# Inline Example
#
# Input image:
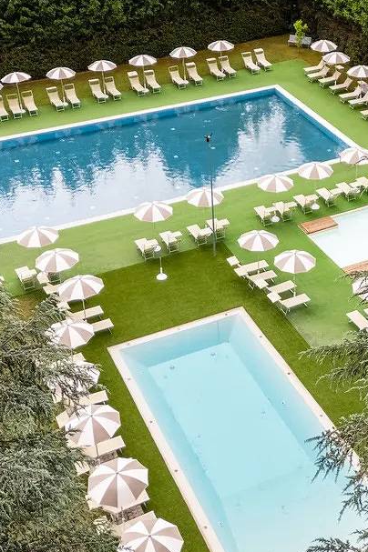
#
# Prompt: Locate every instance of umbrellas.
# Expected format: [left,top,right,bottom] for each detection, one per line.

[50,361,104,416]
[167,49,193,83]
[298,165,334,191]
[118,521,186,552]
[311,42,338,58]
[271,249,316,274]
[59,276,106,323]
[62,410,119,474]
[257,176,294,208]
[127,57,154,91]
[237,229,278,275]
[35,250,80,285]
[20,228,64,252]
[44,70,74,106]
[208,41,235,65]
[338,148,368,165]
[48,320,99,362]
[132,203,170,251]
[321,55,349,90]
[87,61,116,77]
[1,75,31,111]
[346,66,368,91]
